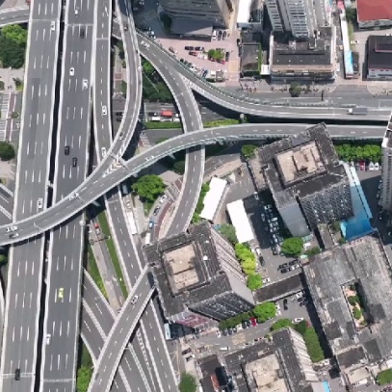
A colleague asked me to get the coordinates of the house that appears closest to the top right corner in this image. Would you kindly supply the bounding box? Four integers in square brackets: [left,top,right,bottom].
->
[355,0,392,28]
